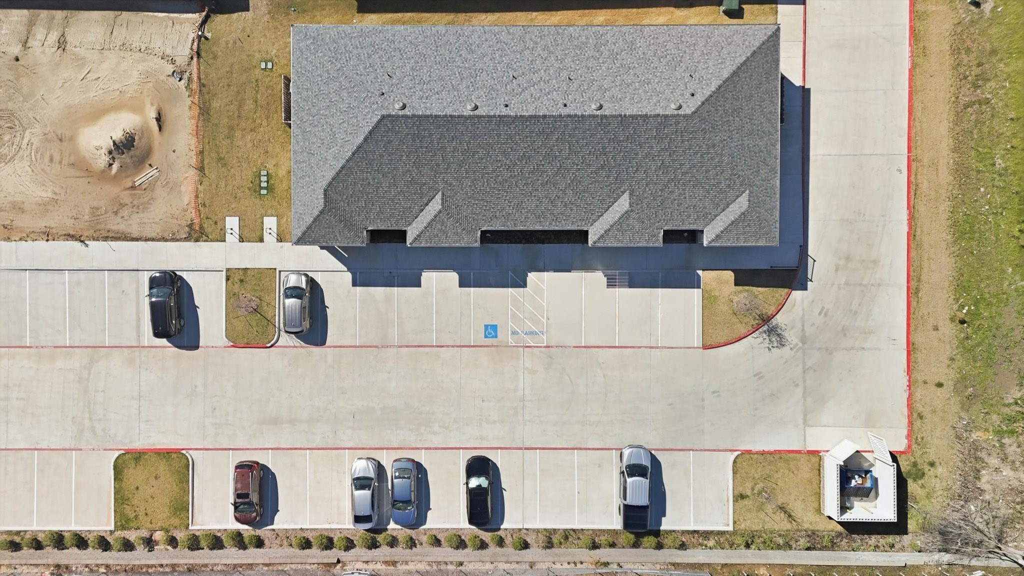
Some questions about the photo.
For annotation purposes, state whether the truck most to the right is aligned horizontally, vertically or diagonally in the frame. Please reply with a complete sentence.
What the image shows is the truck most to the right lying vertically.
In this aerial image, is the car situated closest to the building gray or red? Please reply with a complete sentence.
In this view, the car situated closest to the building is gray.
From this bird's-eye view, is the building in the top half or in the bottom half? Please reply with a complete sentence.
Seen from above, the building lies in the top half of the view.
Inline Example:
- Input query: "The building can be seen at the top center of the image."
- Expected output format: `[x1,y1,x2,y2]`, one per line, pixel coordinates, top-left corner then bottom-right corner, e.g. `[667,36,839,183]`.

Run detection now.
[290,23,781,247]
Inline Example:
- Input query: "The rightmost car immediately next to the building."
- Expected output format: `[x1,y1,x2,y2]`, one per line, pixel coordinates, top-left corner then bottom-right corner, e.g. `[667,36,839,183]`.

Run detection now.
[279,272,312,335]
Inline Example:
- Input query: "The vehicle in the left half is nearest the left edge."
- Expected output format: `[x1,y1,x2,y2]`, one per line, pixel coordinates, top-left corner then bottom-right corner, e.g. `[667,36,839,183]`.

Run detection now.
[144,271,184,338]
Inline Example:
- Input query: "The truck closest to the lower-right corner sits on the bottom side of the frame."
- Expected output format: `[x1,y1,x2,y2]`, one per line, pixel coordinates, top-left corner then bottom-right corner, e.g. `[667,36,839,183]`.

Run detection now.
[619,444,654,532]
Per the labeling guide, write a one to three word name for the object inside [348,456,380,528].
car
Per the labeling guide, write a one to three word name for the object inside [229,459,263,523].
car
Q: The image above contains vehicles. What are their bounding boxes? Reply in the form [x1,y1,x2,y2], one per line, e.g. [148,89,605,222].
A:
[279,272,312,335]
[229,459,263,523]
[348,456,380,528]
[619,444,654,532]
[144,271,184,338]
[388,457,418,525]
[462,454,493,527]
